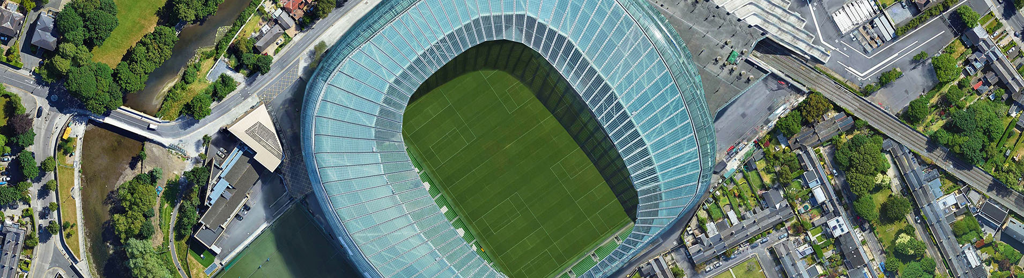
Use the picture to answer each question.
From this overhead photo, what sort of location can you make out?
sports ground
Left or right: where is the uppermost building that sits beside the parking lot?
left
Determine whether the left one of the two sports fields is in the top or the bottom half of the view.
bottom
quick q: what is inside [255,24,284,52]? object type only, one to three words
house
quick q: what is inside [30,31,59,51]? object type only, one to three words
house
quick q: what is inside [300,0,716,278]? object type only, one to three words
stadium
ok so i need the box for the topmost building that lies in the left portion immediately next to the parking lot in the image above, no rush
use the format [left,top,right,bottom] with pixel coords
[227,103,286,173]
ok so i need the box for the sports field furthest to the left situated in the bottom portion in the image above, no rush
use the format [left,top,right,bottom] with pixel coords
[219,207,359,278]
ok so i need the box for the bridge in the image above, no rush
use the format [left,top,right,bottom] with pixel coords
[87,106,168,148]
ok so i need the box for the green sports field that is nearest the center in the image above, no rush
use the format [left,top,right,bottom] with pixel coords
[401,39,639,278]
